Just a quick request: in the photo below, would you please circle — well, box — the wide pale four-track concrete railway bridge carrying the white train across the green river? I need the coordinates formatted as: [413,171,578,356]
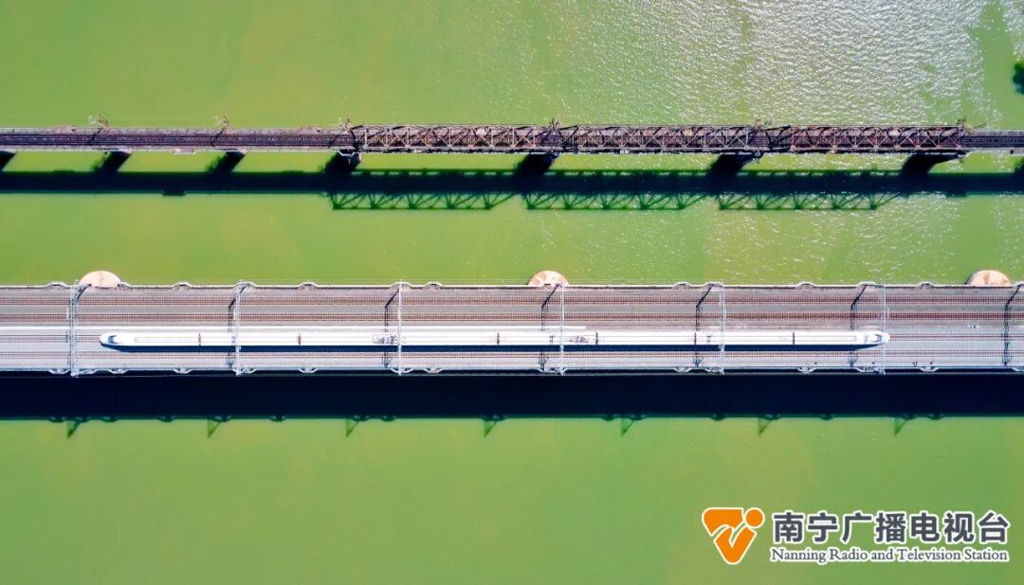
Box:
[0,270,1024,375]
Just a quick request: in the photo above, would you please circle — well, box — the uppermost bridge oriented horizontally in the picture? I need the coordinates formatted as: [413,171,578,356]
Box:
[0,123,1024,165]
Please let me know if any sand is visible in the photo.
No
